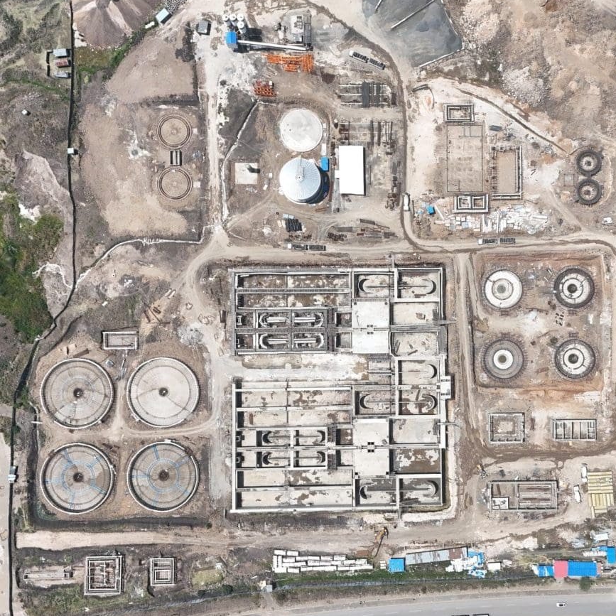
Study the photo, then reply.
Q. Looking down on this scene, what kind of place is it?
industrial area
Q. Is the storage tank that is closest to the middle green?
No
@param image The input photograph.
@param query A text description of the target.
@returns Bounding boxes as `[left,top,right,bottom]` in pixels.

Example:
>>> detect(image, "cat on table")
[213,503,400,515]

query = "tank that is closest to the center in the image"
[279,154,329,205]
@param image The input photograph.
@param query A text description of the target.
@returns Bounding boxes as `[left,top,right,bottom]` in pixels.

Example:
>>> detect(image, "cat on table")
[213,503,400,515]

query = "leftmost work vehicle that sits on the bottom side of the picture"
[374,526,387,551]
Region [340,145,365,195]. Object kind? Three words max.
building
